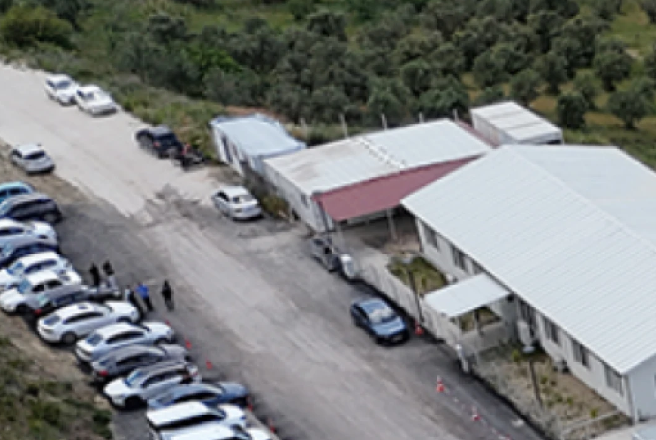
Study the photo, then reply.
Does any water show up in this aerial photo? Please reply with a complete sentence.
No, the picture contains no water.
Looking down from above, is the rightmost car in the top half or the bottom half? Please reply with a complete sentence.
It is in the bottom half that the rightmost car appears.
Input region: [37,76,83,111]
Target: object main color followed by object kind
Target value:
white car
